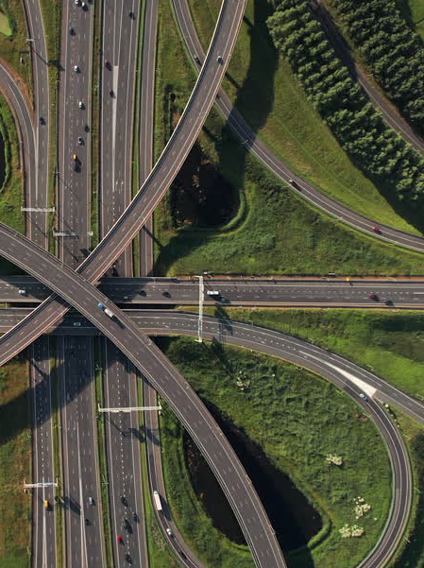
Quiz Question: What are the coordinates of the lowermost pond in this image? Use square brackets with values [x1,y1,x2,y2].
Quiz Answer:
[183,401,322,551]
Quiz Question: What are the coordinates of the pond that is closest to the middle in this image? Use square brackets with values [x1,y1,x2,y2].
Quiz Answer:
[169,146,240,228]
